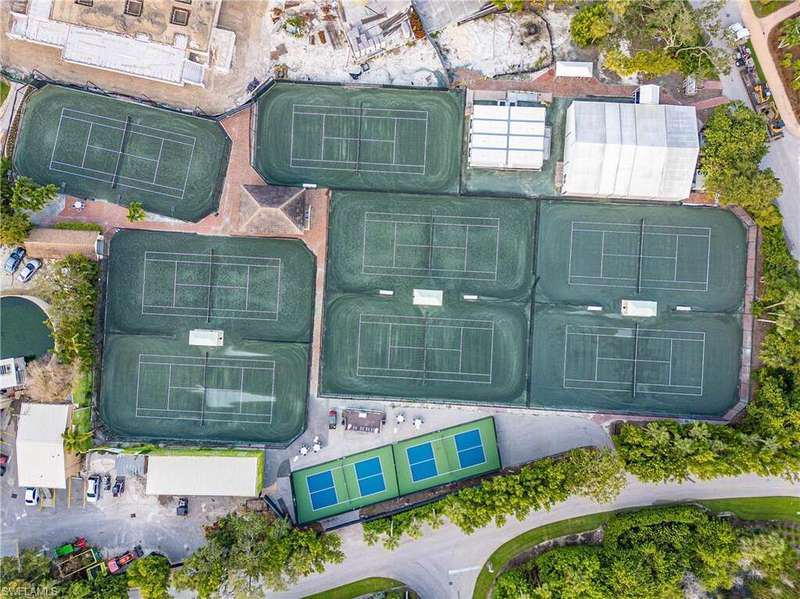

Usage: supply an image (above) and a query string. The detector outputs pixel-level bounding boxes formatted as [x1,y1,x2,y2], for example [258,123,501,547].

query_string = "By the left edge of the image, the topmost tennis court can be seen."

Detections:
[14,84,231,222]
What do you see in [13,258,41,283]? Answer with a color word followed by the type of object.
white car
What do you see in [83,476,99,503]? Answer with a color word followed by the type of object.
white vehicle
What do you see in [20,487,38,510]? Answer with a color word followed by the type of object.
white car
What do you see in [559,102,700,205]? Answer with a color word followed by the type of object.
white tent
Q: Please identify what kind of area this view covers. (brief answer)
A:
sports ground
